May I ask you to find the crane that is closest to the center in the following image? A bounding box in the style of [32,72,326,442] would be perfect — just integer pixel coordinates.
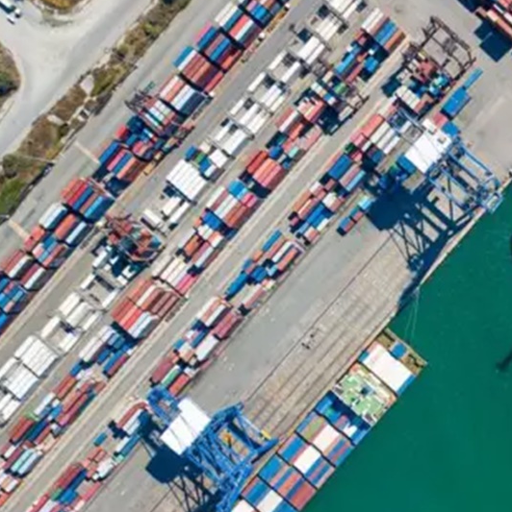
[100,210,174,268]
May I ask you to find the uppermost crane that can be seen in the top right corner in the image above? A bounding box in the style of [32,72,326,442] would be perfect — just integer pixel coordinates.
[409,19,479,90]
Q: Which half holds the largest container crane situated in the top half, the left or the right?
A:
right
